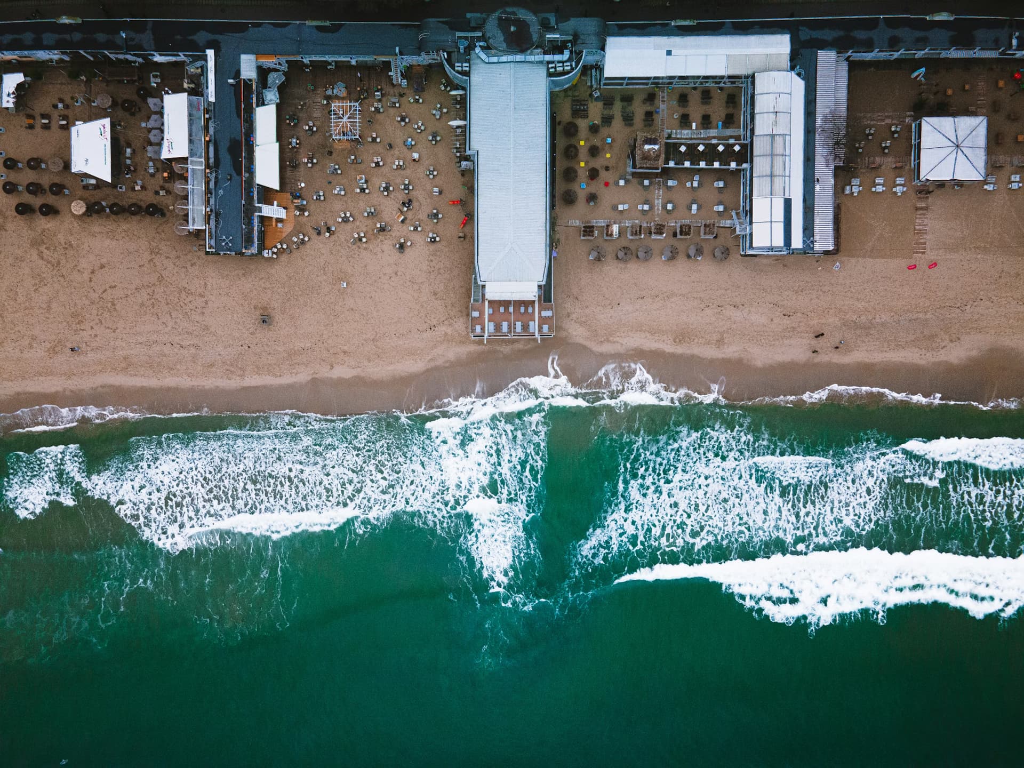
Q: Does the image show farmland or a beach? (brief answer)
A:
beach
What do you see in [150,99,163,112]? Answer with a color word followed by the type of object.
gray umbrella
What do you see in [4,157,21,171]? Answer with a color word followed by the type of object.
black umbrella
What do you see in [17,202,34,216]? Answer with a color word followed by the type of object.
black umbrella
